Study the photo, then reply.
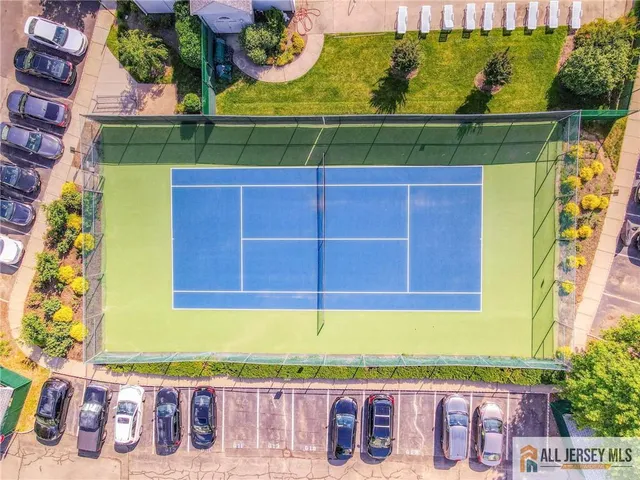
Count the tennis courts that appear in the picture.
one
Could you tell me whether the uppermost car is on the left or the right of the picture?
left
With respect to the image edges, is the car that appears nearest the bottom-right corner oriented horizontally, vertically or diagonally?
vertically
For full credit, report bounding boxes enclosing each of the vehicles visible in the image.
[16,49,79,87]
[0,158,44,191]
[0,229,27,258]
[11,93,72,128]
[330,394,359,458]
[189,386,219,446]
[366,393,396,457]
[76,383,111,453]
[0,191,40,224]
[38,377,75,437]
[28,19,91,58]
[441,392,472,459]
[153,386,184,450]
[2,121,66,156]
[114,384,146,444]
[475,399,506,464]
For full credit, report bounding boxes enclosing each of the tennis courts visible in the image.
[102,121,558,359]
